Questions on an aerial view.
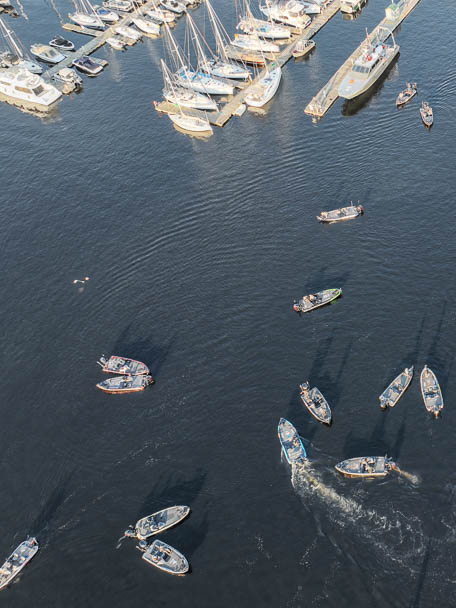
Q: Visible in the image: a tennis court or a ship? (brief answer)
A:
ship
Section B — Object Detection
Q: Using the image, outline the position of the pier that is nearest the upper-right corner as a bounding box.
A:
[305,0,418,114]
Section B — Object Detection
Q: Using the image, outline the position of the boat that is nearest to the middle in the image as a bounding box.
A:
[295,289,342,316]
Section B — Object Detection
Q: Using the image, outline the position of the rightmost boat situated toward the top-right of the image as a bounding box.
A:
[419,100,434,127]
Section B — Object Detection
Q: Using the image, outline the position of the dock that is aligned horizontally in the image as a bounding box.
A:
[152,103,217,124]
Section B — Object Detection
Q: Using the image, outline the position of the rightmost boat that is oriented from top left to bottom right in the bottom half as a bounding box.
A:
[301,386,332,423]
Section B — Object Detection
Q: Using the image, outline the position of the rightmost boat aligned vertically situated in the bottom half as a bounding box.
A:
[420,367,444,415]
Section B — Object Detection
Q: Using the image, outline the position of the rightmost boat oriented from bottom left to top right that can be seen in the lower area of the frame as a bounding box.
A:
[378,365,414,408]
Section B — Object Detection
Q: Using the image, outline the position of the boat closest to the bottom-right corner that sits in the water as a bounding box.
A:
[335,457,394,477]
